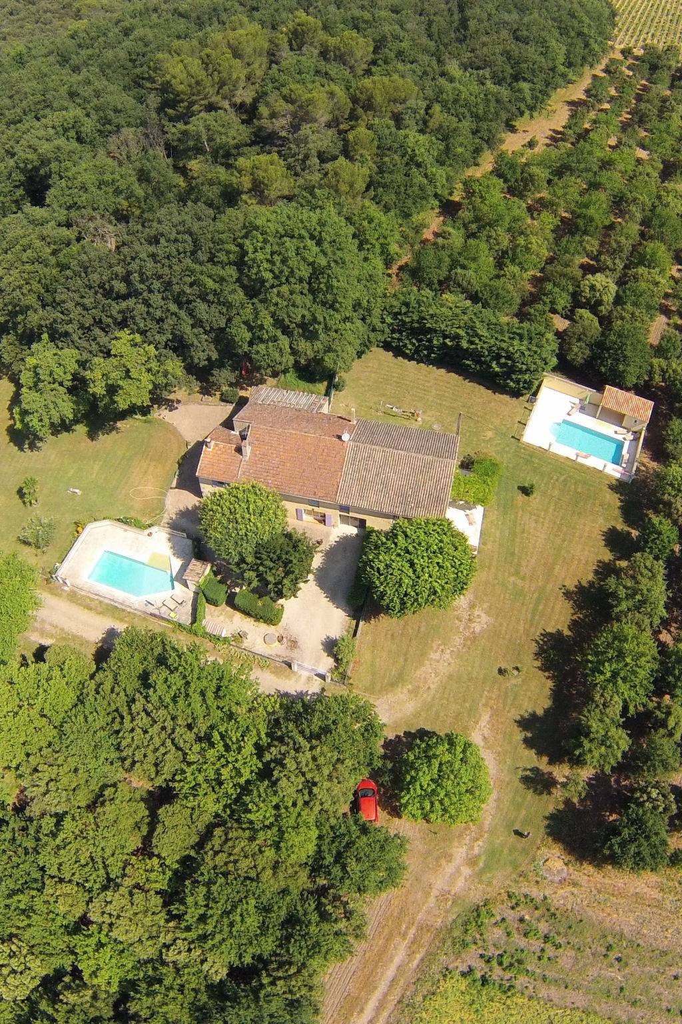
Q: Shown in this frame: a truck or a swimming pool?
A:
swimming pool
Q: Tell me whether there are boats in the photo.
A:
No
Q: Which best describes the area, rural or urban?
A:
rural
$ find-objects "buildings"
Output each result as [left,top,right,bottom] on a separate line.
[183,558,211,592]
[598,385,654,432]
[195,386,460,541]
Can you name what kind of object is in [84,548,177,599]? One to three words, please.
swimming pool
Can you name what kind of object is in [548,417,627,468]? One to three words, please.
swimming pool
